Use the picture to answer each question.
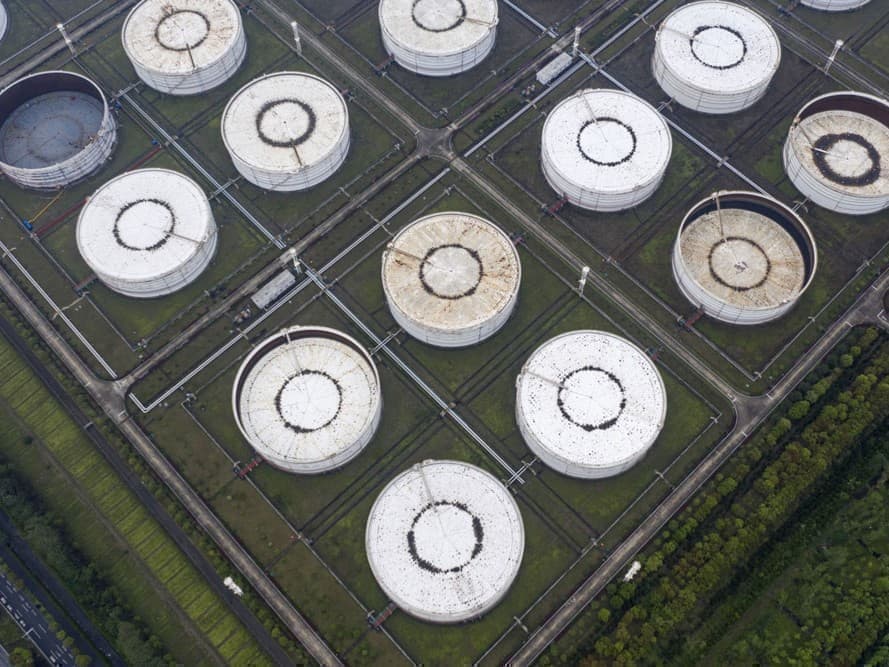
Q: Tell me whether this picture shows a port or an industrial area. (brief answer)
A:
industrial area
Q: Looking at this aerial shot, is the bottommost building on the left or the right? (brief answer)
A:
left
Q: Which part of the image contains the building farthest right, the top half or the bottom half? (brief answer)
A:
top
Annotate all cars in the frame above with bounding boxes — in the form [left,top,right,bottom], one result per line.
[0,596,7,604]
[12,611,20,620]
[5,604,14,612]
[18,618,26,627]
[104,650,112,659]
[48,654,56,664]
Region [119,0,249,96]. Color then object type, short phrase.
white storage tank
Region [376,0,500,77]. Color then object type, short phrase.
white storage tank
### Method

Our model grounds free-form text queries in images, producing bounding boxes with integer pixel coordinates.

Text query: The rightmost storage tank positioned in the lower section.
[512,327,668,481]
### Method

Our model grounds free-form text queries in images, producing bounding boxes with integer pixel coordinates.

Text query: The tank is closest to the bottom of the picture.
[364,457,527,626]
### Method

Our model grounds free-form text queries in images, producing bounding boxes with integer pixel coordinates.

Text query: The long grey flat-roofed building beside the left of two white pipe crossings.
[250,269,297,310]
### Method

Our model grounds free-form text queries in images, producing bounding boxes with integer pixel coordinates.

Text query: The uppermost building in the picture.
[535,51,575,87]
